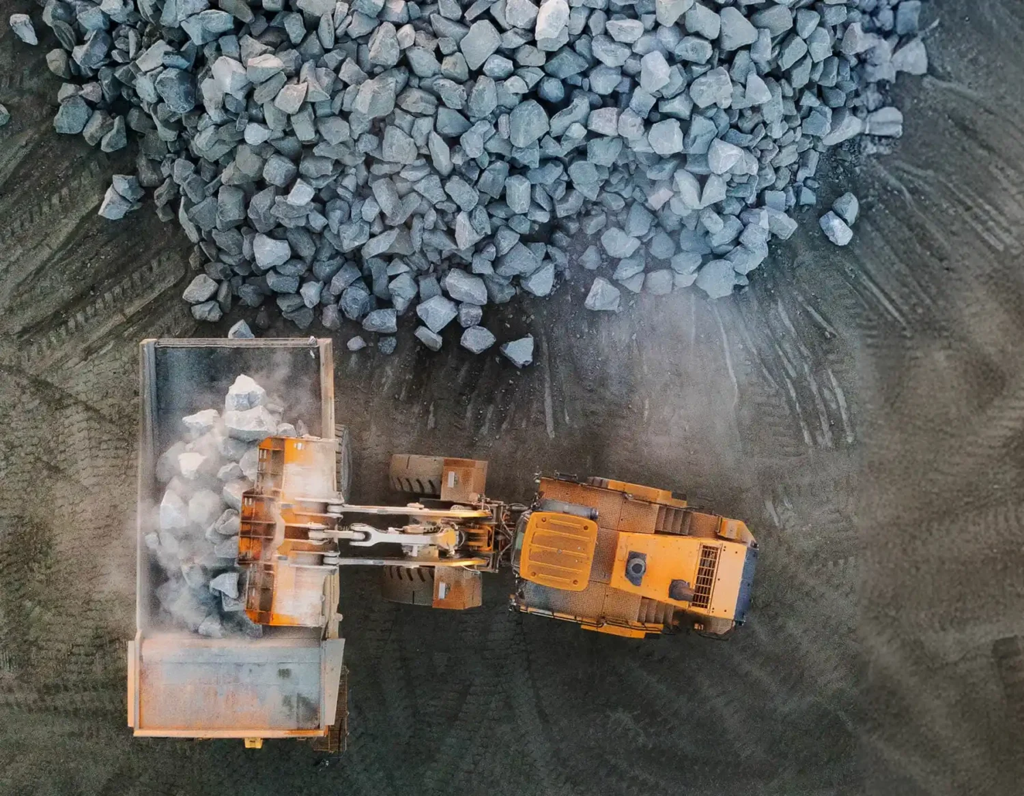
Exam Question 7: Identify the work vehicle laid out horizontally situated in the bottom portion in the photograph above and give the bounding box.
[232,437,760,641]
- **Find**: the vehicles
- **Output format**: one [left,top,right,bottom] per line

[128,338,363,768]
[232,437,760,641]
